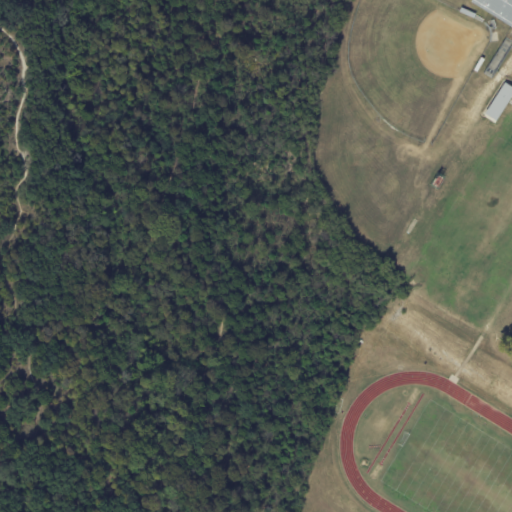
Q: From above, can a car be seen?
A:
No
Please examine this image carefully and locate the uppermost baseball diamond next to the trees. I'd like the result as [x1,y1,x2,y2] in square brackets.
[348,0,491,152]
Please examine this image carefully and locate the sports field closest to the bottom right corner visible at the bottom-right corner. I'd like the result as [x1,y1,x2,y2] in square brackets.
[382,400,512,512]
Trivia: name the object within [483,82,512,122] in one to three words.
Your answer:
shed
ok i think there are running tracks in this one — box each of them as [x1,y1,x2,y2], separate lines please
[340,371,512,512]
